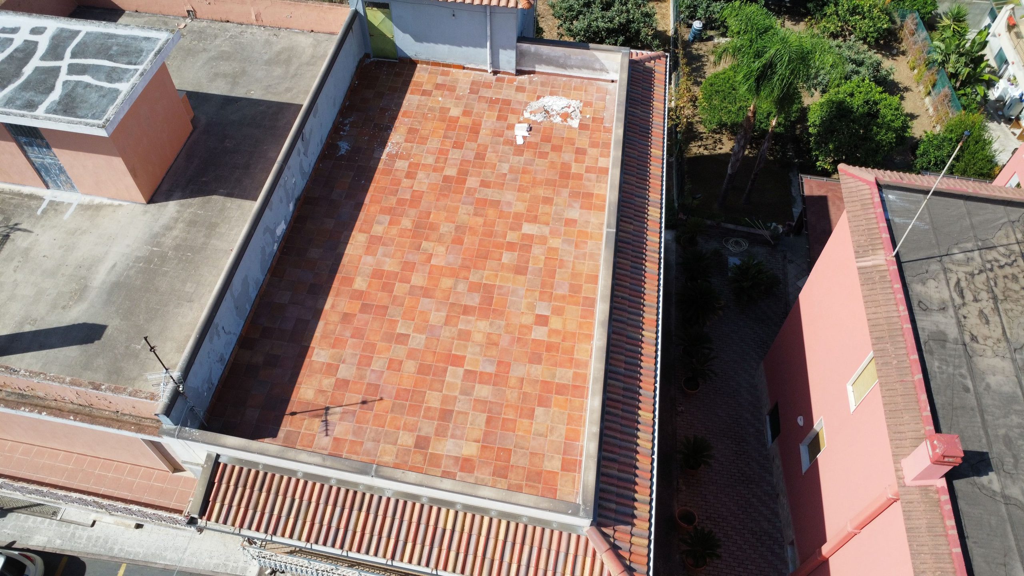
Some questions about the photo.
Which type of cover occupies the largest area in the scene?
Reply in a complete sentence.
The bulk of the photo consists of buildings.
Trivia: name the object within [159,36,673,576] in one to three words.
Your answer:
house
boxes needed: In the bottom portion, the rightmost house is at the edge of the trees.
[763,157,1024,576]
